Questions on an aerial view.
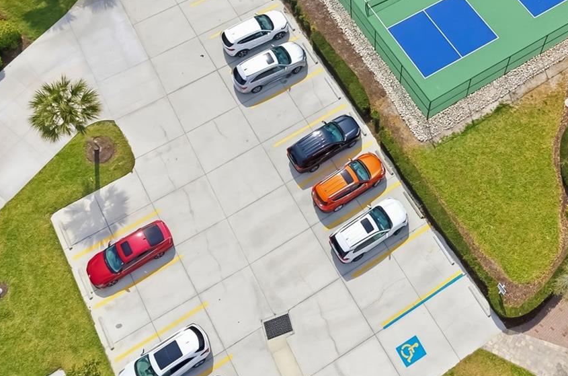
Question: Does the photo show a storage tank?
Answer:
No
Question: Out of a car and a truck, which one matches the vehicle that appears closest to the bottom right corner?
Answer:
car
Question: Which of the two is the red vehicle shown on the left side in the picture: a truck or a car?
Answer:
car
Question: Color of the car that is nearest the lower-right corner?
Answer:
white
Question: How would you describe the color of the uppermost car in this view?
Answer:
white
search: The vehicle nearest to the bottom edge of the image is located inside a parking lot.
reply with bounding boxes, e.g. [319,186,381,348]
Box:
[122,328,211,376]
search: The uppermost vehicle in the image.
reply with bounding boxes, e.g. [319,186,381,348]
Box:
[222,13,290,59]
